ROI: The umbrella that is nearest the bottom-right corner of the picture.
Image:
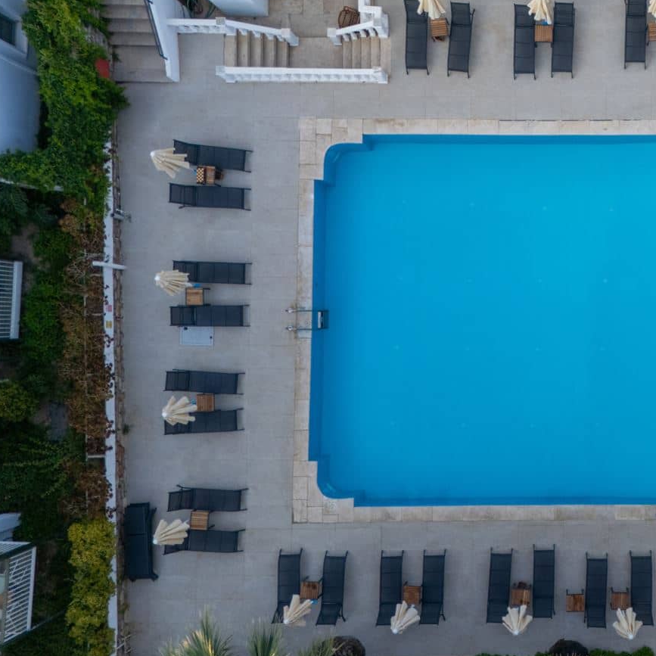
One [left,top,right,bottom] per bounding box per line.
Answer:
[616,606,641,638]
